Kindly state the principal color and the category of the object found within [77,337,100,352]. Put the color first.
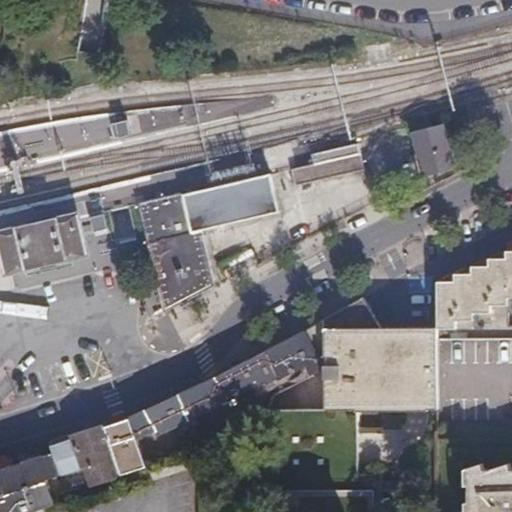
gray car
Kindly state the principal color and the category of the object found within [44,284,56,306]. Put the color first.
white vehicle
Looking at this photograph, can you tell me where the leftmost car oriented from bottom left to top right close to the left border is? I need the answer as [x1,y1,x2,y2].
[18,352,37,372]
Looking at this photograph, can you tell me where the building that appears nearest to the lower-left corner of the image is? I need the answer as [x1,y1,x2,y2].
[0,452,60,496]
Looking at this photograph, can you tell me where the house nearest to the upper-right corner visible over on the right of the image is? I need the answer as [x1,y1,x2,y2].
[410,124,456,179]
